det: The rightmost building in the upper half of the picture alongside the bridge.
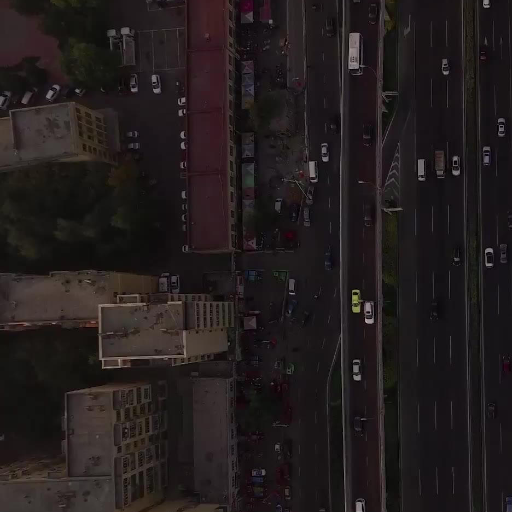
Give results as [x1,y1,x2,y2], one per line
[186,0,241,255]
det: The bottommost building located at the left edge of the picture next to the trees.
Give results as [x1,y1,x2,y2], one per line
[0,380,172,512]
